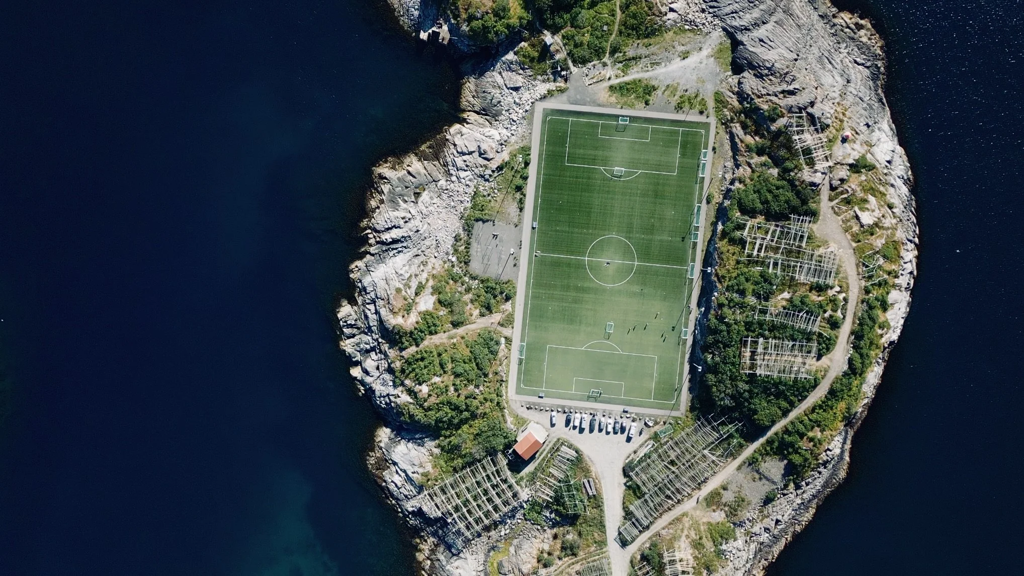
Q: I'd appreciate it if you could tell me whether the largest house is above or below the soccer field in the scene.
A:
below it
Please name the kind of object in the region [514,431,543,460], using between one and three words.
house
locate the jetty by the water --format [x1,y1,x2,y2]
[420,24,450,45]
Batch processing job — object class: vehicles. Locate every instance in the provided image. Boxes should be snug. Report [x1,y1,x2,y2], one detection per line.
[551,412,557,424]
[599,418,605,429]
[574,413,580,426]
[566,413,572,424]
[621,420,626,430]
[581,414,588,428]
[613,420,619,432]
[607,419,613,432]
[630,423,636,437]
[590,418,596,430]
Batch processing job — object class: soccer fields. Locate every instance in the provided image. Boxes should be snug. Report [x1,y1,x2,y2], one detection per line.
[510,102,715,416]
